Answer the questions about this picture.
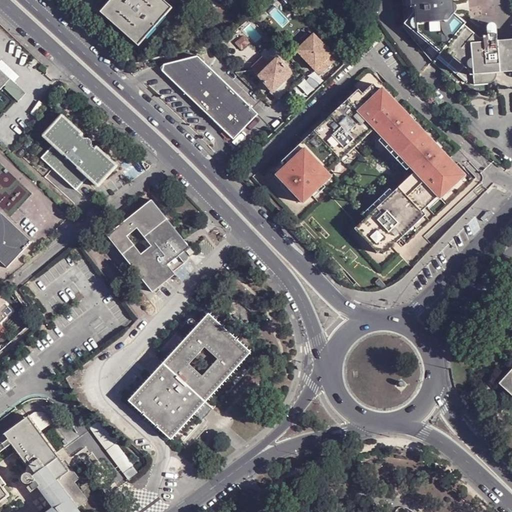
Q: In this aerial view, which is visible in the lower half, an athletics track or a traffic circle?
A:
traffic circle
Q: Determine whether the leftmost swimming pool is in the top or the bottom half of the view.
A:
top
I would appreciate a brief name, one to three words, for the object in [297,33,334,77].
house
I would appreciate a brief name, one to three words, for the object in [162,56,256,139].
building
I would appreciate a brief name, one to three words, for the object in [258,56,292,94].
house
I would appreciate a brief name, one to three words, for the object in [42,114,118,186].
building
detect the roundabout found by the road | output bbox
[320,308,447,434]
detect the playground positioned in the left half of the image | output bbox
[0,164,31,217]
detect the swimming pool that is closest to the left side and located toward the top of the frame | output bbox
[244,24,264,43]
